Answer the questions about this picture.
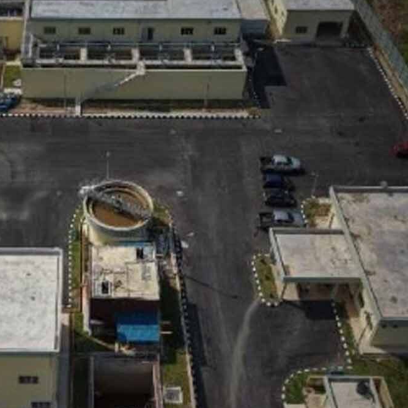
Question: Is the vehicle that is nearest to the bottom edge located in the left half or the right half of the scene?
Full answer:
The vehicle that is nearest to the bottom edge sits on the right side.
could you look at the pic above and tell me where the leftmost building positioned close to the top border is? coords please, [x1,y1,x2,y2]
[22,0,270,103]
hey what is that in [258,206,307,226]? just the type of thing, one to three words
vehicle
